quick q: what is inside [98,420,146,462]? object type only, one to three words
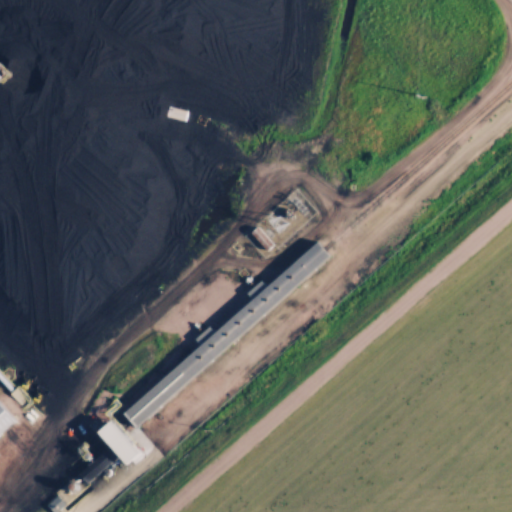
building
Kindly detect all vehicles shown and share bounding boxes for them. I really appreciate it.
[69,360,82,370]
[100,356,108,364]
[68,426,73,436]
[78,426,86,434]
[472,96,480,104]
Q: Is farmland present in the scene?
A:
Yes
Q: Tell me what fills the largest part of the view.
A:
paved ground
